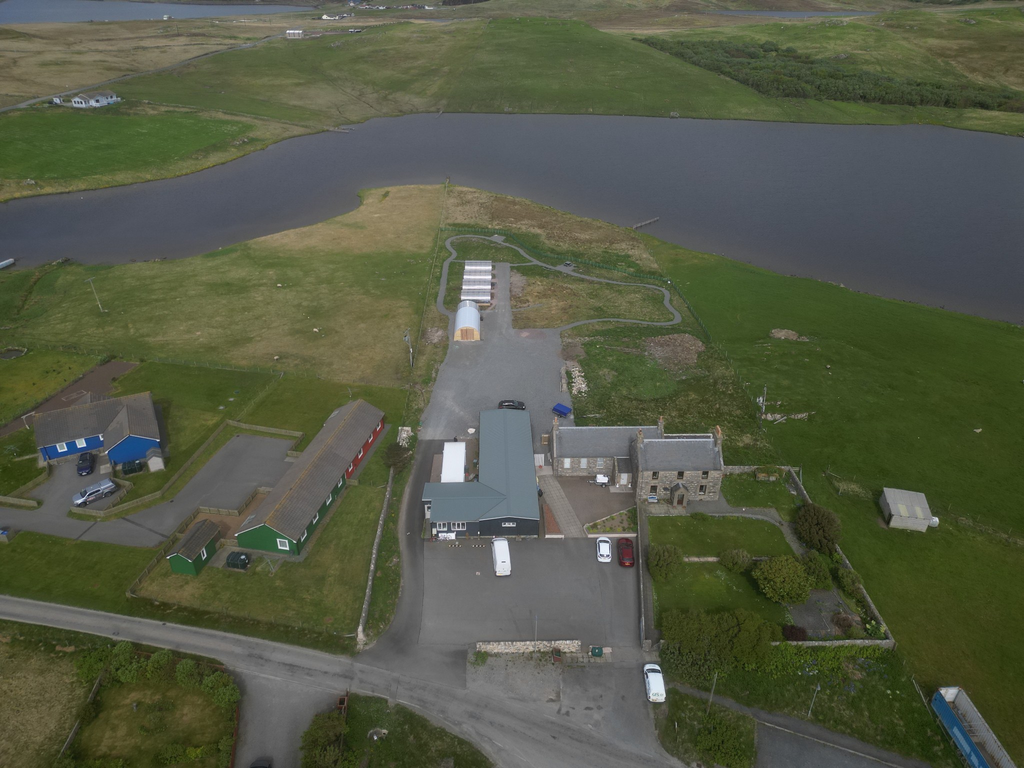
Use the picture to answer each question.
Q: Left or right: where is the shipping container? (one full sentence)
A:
The shipping container is on the right side of the image.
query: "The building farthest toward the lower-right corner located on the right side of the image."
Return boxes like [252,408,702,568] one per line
[882,486,931,532]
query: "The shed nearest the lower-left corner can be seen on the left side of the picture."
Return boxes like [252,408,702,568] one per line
[167,519,224,575]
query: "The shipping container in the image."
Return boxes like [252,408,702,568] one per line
[930,686,1015,768]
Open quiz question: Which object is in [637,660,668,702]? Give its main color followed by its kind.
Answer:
white van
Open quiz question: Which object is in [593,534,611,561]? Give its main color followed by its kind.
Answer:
white car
